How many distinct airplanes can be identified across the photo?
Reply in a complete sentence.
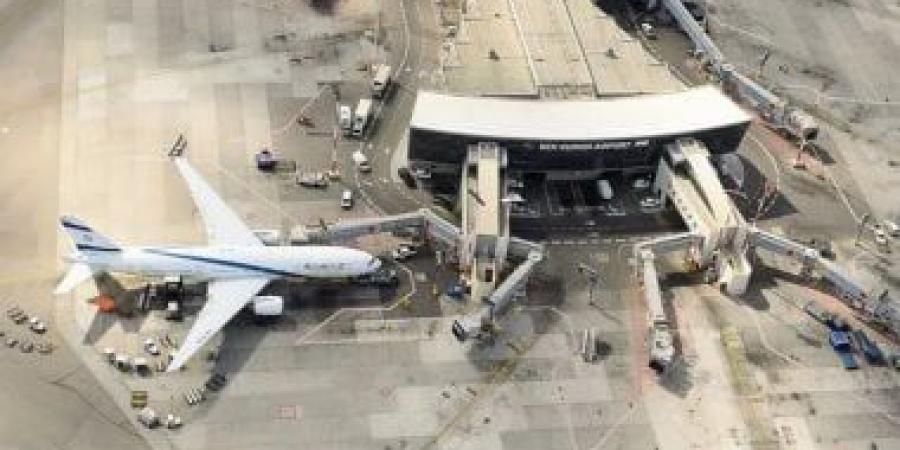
I count just 1 airplane.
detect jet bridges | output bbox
[750,230,900,335]
[655,0,819,143]
[451,237,550,350]
[287,212,471,256]
[636,234,694,372]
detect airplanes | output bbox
[51,156,384,370]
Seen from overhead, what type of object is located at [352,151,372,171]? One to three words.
vehicle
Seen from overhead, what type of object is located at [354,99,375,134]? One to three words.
truck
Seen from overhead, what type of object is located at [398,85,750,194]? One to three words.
building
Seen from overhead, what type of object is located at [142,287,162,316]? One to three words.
work vehicle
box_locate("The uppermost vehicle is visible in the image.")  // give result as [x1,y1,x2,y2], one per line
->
[685,0,709,22]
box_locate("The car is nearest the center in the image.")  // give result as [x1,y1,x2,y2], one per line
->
[427,196,450,212]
